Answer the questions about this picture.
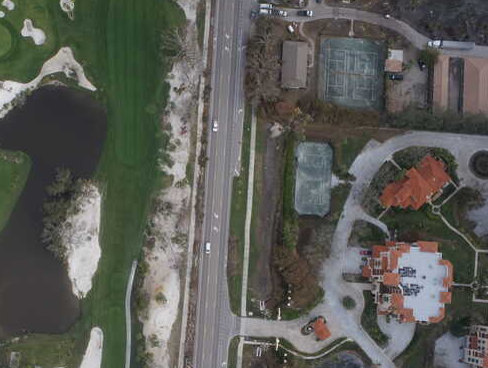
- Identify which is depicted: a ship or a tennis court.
tennis court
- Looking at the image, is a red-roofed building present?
Yes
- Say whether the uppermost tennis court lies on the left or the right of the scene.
right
